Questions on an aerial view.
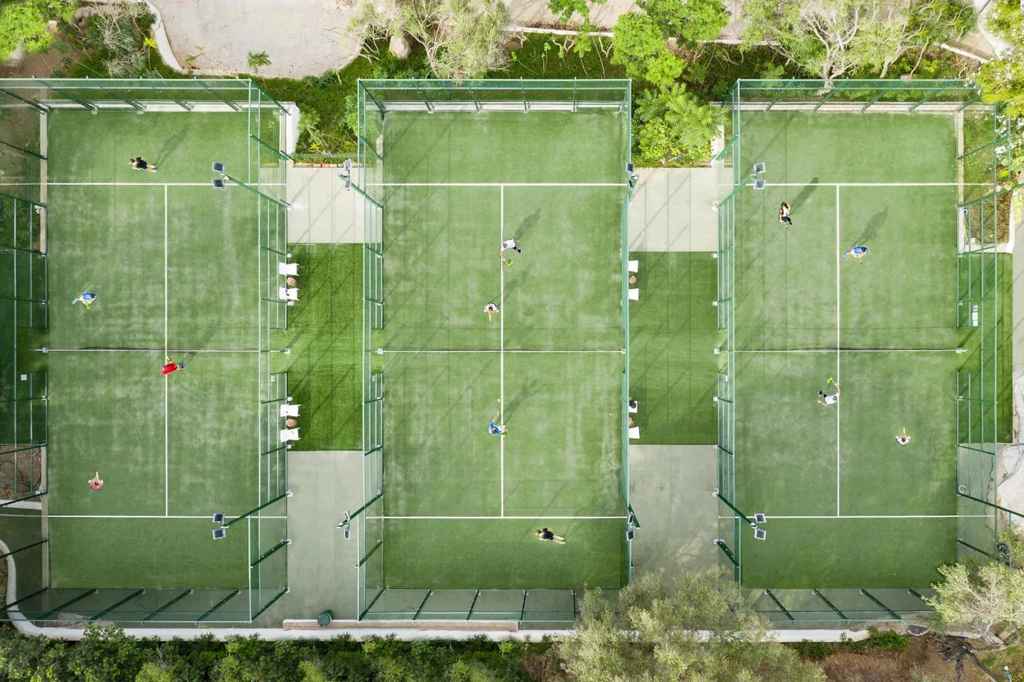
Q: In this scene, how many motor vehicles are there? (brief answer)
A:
zero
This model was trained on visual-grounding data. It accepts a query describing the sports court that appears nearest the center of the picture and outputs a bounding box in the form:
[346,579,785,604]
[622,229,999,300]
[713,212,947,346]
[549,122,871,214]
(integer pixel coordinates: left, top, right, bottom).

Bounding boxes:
[382,110,623,589]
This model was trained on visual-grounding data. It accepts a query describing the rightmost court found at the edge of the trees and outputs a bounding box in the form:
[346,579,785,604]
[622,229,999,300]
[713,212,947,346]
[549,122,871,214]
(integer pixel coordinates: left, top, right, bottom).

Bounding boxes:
[718,110,958,589]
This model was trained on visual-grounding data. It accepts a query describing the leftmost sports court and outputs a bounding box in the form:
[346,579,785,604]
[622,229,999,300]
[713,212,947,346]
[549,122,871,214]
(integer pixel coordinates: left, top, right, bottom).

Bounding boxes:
[47,110,287,589]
